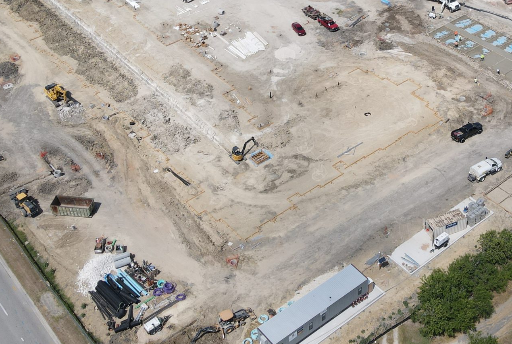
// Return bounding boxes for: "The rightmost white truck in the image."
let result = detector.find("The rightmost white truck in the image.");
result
[466,155,509,183]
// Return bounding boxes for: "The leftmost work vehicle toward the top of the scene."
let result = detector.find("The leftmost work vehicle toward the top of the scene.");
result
[43,81,73,109]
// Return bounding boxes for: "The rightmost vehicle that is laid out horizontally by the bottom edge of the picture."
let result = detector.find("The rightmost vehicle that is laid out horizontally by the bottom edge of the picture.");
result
[184,312,256,338]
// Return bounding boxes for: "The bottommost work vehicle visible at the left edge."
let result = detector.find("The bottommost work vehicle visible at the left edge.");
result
[8,190,38,214]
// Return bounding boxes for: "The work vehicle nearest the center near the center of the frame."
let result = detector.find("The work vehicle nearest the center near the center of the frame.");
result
[228,135,260,167]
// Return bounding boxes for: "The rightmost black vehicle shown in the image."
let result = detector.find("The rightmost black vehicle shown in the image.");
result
[452,125,482,141]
